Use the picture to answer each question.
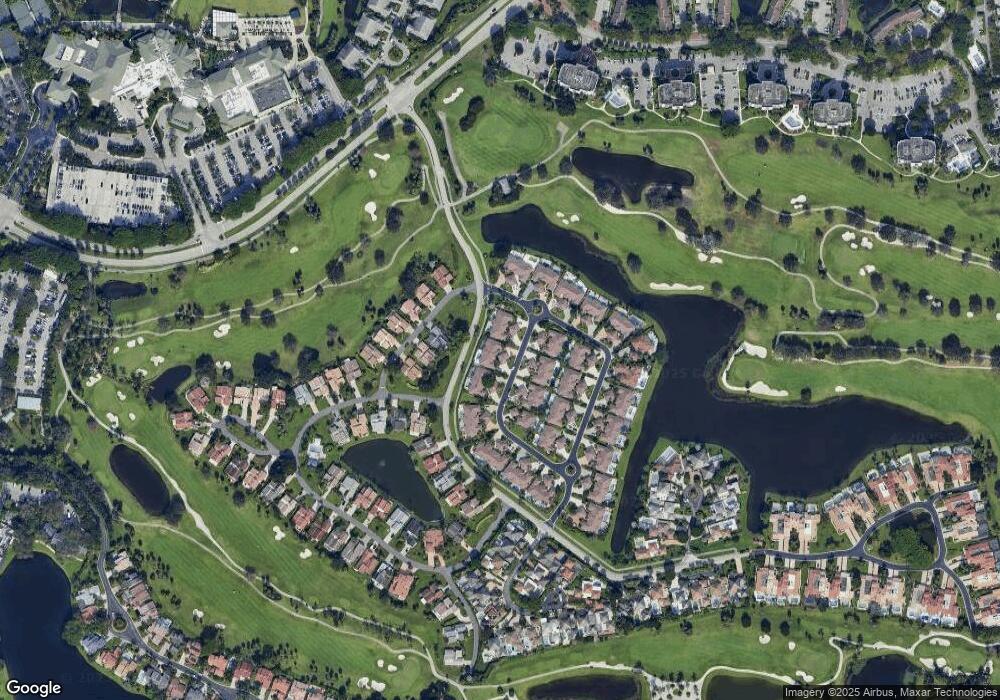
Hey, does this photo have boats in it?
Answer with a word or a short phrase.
No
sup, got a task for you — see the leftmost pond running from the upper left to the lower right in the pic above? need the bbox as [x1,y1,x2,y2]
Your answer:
[109,444,171,515]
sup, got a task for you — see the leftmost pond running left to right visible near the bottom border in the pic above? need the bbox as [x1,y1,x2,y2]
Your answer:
[521,675,643,700]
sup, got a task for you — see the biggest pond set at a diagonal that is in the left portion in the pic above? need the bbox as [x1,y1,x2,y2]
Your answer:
[342,438,442,523]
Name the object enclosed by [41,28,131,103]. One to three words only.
building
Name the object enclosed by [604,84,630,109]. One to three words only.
swimming pool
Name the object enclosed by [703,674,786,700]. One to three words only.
pond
